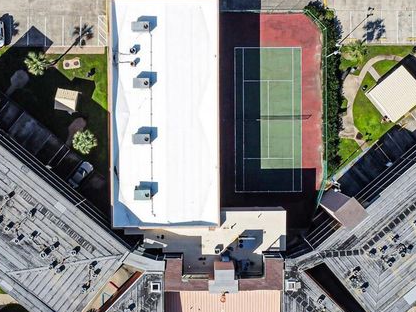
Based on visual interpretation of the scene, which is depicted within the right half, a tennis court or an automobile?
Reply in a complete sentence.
There is a tennis court within the right half.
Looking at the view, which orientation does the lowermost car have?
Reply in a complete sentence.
The lowermost car has been laid out diagonally relative to the frame.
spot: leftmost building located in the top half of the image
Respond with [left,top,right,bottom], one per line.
[55,87,81,111]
